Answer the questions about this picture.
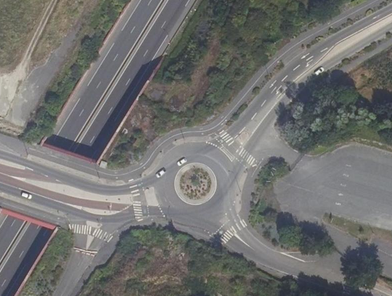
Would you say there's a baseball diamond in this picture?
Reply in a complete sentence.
No, the scene contains no baseball diamond.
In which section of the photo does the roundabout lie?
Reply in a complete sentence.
The roundabout appears toward the center of the photo.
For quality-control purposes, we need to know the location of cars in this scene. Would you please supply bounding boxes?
[21,192,32,199]
[176,156,188,166]
[156,168,166,177]
[314,66,324,74]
